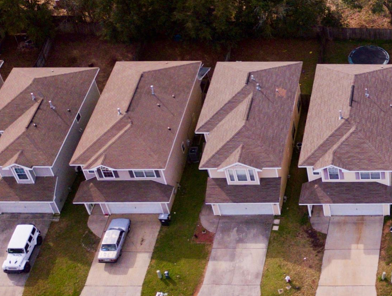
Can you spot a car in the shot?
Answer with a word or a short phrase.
Yes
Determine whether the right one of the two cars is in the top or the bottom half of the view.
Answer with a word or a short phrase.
bottom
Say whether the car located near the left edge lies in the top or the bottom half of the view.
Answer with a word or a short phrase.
bottom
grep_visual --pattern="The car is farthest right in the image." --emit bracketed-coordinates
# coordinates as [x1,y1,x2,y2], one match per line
[93,219,129,265]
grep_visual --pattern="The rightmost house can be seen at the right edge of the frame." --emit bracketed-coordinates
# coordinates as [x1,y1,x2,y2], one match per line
[298,63,392,216]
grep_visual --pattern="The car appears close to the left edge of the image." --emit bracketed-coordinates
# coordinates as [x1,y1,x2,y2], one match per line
[0,220,41,269]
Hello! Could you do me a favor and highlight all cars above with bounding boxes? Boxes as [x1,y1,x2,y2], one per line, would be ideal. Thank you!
[0,220,41,269]
[93,219,129,265]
